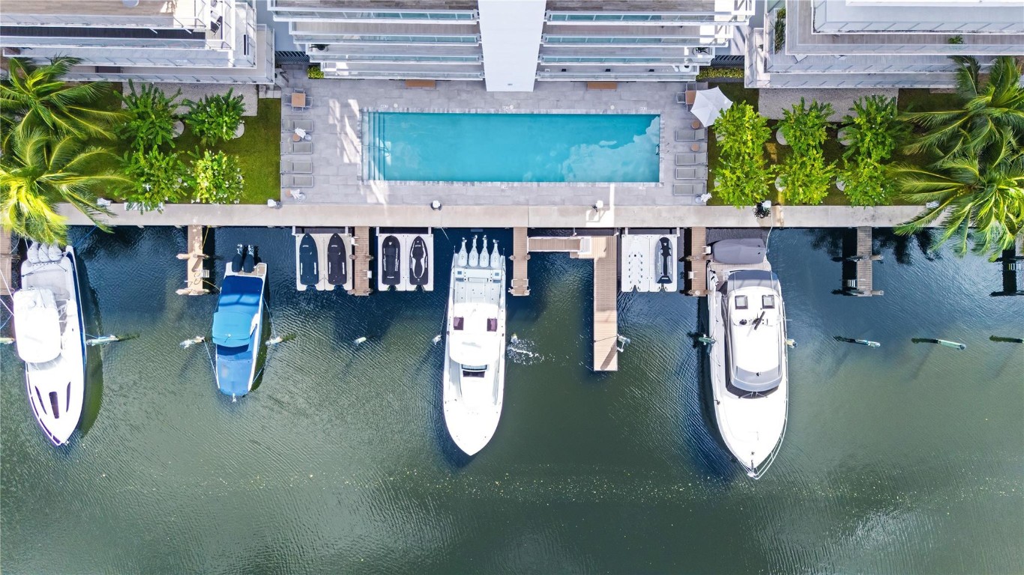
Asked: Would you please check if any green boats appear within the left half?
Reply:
No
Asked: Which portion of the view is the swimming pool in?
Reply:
top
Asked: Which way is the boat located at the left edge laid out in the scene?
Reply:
from top to bottom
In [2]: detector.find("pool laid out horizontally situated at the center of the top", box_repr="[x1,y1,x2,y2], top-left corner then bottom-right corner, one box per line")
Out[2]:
[356,108,675,187]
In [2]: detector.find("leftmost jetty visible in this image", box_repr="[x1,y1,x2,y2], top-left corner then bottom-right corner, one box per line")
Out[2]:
[0,228,27,293]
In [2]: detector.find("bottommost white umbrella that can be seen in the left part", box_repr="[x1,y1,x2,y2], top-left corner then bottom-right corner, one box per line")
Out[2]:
[289,188,309,203]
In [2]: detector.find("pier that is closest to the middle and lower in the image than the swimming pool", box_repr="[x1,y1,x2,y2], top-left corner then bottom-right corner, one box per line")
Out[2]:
[508,228,533,295]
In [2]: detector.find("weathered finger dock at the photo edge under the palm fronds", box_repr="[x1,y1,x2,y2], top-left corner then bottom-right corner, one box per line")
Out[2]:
[1000,228,1024,296]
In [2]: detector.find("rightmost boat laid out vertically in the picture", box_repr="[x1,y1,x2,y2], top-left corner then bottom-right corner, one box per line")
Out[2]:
[705,258,791,481]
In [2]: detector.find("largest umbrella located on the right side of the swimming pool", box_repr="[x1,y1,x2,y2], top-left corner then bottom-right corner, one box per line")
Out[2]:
[690,86,733,127]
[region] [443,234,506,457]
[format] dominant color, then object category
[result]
white boat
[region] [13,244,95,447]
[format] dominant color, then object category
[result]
white boat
